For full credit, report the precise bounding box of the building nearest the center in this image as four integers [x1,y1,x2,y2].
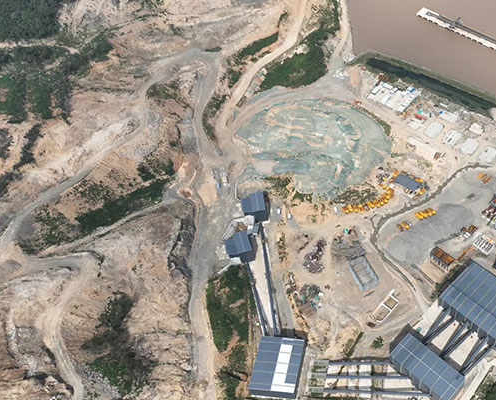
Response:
[241,192,268,223]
